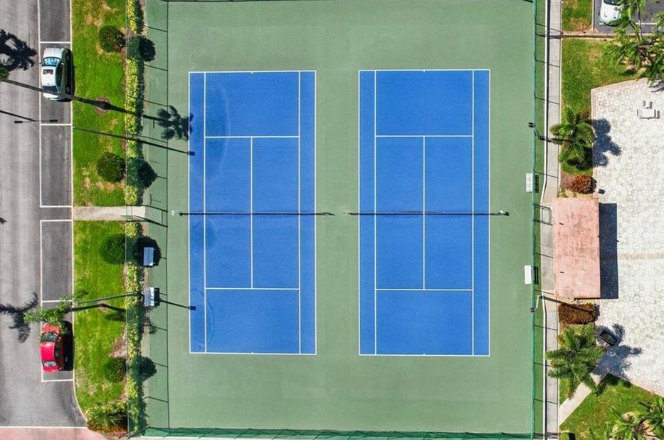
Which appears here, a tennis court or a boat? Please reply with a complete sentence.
Looking from above, you can make out a tennis court.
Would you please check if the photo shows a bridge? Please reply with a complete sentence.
No, the frame has no bridge in it.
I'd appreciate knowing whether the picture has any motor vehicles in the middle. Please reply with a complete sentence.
No, no motor vehicle is visible in the middle.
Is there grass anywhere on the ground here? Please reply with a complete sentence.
Yes, the picture does contain grass.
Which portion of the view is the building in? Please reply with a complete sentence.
The building is located in the right region of the scene.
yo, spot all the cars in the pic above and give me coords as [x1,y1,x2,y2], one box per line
[601,0,628,23]
[34,320,66,374]
[36,45,68,99]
